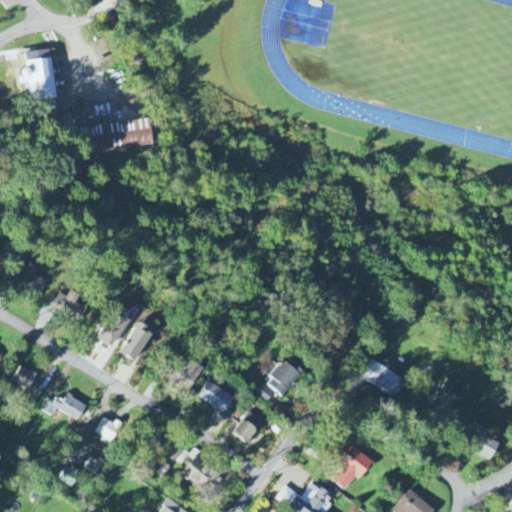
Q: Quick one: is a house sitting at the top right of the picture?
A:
No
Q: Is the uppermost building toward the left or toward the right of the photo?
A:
left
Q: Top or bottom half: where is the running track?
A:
top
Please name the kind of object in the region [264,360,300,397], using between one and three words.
house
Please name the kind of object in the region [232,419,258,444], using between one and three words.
house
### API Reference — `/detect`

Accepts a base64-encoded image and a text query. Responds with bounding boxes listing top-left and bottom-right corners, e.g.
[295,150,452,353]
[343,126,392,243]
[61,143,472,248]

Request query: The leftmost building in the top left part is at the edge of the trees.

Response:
[18,48,57,98]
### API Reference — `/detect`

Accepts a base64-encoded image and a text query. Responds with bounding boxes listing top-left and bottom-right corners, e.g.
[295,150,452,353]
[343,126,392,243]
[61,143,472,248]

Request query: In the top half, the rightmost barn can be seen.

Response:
[84,118,154,152]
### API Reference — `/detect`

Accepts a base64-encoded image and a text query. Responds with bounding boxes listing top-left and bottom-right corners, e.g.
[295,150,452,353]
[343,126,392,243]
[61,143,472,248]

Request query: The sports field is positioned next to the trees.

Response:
[280,0,512,140]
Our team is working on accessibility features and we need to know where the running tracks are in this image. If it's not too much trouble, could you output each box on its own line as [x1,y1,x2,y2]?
[262,0,512,159]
